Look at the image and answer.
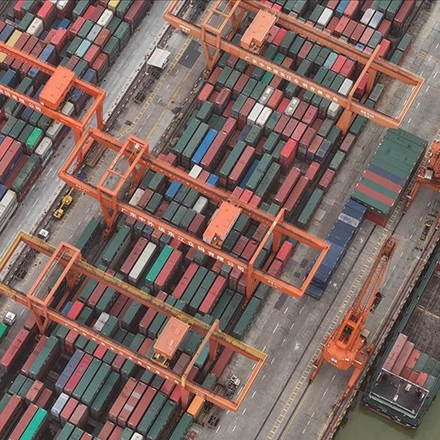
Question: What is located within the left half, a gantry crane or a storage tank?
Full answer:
Visible within the left half is a gantry crane.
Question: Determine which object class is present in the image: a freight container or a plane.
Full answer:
Looking from above, you can make out a freight container.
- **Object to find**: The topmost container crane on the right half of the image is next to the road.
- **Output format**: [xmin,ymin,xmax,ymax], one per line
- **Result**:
[162,0,425,140]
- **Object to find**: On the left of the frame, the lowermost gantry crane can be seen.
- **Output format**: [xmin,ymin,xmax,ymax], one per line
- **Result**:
[0,230,269,416]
